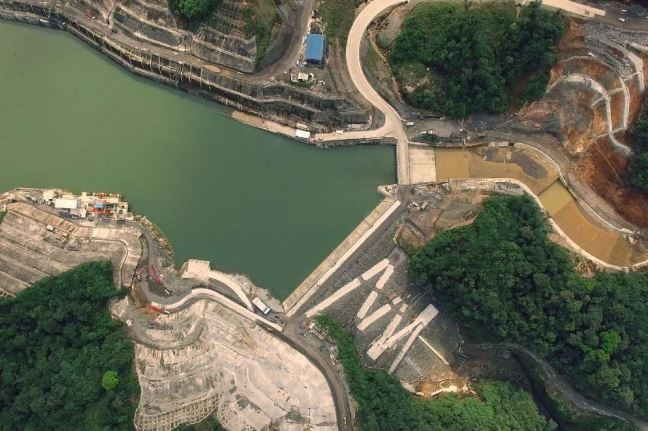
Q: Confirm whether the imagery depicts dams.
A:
Yes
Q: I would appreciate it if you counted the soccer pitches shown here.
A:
zero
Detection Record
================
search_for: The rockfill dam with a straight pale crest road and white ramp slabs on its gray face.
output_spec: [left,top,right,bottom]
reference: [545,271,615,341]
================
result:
[277,191,449,375]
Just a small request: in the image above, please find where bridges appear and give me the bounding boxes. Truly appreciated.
[393,142,409,187]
